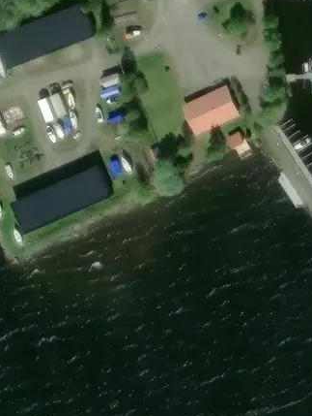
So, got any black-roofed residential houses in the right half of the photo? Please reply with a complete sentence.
No, no black-roofed residential house appears in the right half of the photo.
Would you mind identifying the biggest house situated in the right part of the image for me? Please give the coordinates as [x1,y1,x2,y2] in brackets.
[183,85,241,136]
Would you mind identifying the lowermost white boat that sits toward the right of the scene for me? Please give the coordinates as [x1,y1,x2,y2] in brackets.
[295,136,312,149]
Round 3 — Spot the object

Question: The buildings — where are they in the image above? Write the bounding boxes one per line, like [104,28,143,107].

[227,131,247,150]
[0,3,99,68]
[10,164,119,234]
[183,85,241,136]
